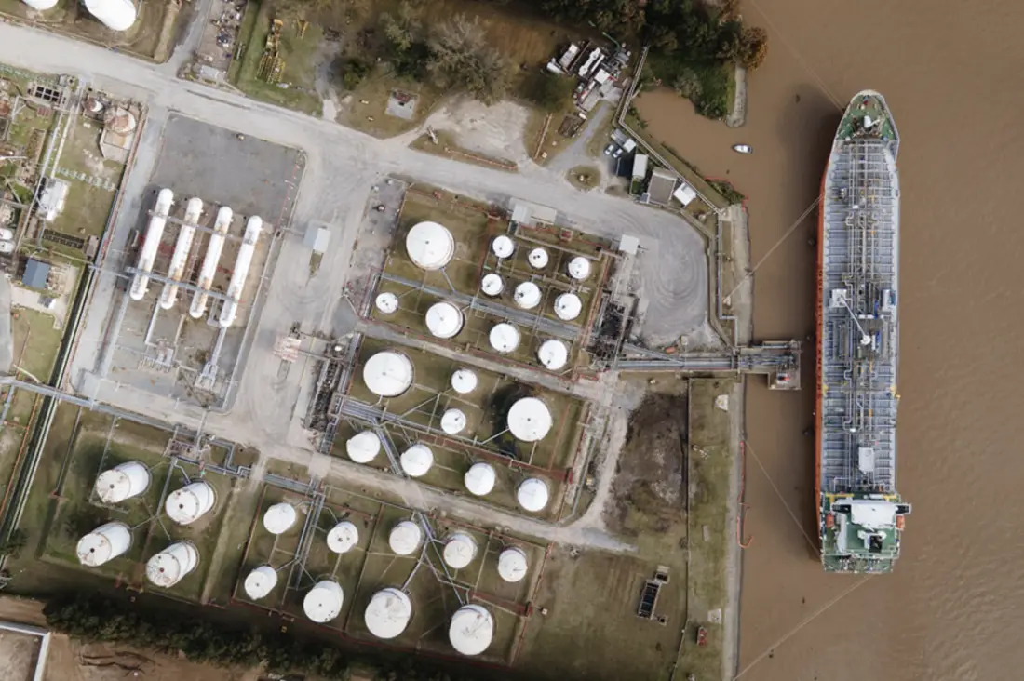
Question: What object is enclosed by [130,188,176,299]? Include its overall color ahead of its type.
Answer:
white storage tank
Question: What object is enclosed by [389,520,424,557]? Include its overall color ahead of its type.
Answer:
white storage tank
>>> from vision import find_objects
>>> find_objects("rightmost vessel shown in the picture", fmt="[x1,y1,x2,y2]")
[814,90,910,572]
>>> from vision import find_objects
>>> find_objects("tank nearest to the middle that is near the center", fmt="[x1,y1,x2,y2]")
[489,321,522,356]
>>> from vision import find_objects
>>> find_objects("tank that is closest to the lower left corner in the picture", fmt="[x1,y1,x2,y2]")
[77,523,136,569]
